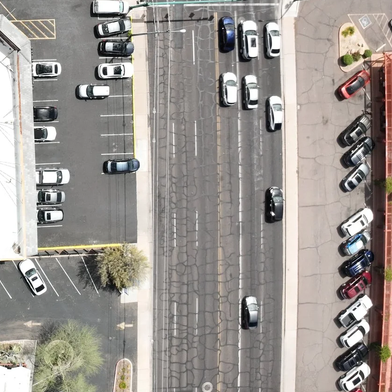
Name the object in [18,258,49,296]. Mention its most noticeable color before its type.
white car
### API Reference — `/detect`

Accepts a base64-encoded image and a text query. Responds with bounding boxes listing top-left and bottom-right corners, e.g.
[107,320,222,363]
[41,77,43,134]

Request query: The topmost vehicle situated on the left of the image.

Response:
[91,0,129,16]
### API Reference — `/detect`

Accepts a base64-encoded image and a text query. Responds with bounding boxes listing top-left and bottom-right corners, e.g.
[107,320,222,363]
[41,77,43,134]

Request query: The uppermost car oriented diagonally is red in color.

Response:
[334,68,370,101]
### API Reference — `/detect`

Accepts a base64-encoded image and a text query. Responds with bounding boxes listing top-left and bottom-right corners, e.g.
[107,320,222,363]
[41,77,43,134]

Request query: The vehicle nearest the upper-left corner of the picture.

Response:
[31,62,62,77]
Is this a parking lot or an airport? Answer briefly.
parking lot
